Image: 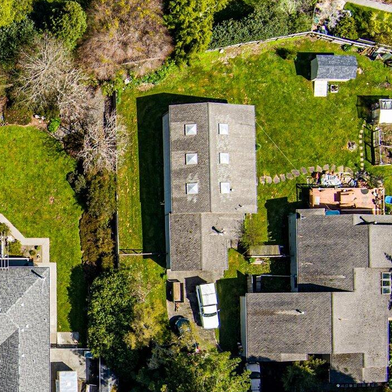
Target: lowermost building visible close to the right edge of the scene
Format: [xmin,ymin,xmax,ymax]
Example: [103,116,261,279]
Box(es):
[238,209,392,383]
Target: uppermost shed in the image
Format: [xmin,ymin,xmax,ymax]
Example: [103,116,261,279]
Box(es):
[300,56,356,96]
